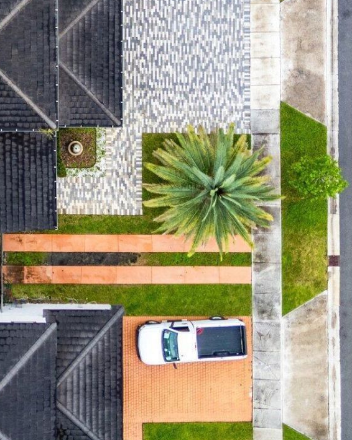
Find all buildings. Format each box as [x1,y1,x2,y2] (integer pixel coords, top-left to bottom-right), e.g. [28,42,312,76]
[0,0,125,235]
[0,299,125,440]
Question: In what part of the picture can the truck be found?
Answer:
bottom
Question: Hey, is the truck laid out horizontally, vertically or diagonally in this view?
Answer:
horizontally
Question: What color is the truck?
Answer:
white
